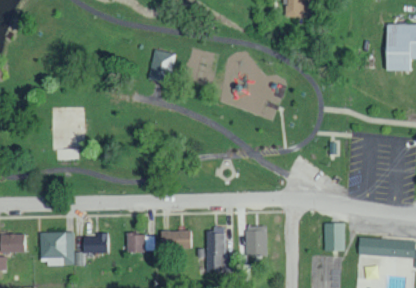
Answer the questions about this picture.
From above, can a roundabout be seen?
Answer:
No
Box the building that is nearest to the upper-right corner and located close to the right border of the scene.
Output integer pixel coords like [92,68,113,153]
[385,24,416,71]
